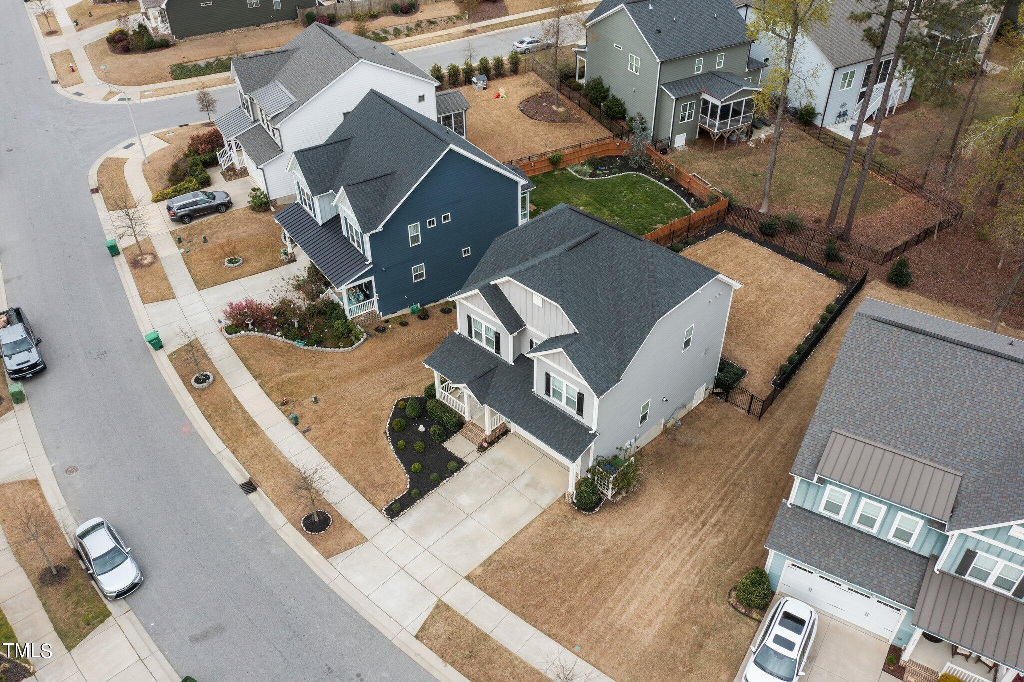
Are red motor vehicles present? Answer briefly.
No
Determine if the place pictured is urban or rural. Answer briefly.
urban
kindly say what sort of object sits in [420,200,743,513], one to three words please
house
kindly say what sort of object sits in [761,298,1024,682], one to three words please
house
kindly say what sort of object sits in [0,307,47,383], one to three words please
truck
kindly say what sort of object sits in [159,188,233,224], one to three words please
car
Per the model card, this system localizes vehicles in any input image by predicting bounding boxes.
[0,307,47,383]
[69,512,145,609]
[742,589,821,682]
[159,188,233,224]
[512,35,557,54]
